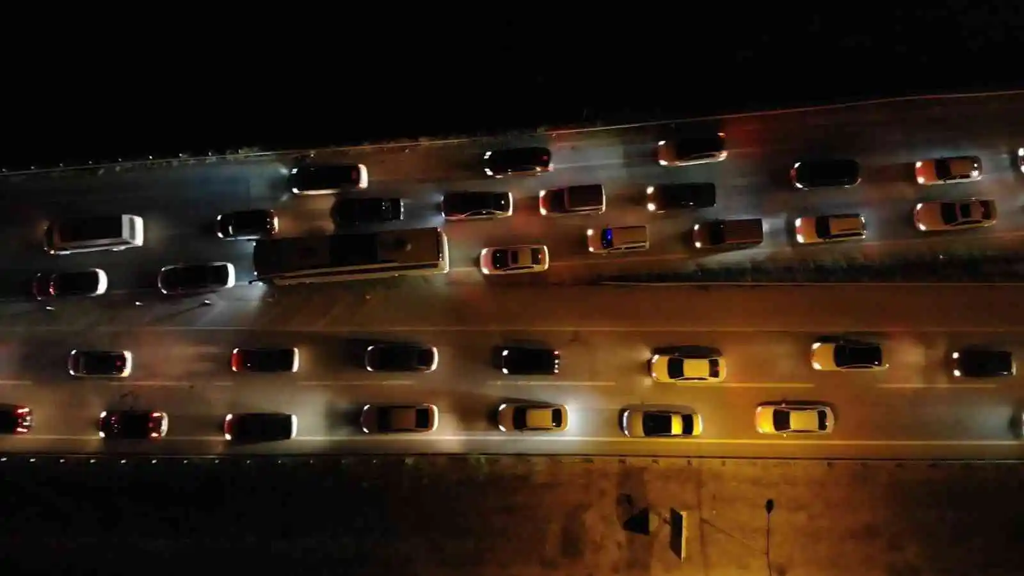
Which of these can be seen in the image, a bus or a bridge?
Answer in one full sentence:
It is a bus that can be seen here.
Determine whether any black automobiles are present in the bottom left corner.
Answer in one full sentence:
Yes, a black automobile is visible in the bottom left corner.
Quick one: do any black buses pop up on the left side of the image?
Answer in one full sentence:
Yes, you'll find a black bus on the left side of the image.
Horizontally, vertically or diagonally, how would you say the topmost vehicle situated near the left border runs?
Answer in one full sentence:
Seen from above, the topmost vehicle situated near the left border lies horizontally.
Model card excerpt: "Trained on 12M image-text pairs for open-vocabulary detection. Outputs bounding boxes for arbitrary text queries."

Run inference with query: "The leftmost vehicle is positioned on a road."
[0,405,36,434]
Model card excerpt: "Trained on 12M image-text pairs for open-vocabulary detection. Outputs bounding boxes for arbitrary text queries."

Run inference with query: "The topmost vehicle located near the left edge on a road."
[47,214,145,254]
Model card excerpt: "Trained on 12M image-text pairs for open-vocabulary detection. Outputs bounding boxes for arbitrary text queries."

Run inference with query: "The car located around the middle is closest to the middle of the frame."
[480,241,551,275]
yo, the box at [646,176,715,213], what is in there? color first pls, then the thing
black van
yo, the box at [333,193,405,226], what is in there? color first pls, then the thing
black car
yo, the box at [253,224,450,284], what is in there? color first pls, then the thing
black bus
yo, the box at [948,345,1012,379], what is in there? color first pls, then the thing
black car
